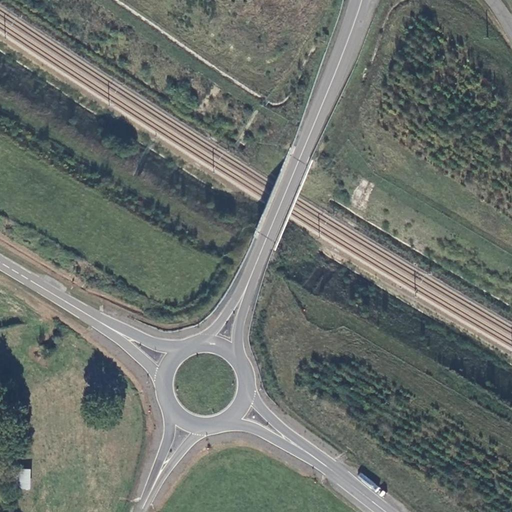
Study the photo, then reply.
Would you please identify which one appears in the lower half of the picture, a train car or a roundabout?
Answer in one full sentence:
The one visible in the lower half of the picture is a roundabout.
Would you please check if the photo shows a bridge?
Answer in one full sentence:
Yes, the frame does contain a bridge.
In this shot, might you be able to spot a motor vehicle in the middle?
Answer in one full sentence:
No, no motor vehicle can be made out in the middle.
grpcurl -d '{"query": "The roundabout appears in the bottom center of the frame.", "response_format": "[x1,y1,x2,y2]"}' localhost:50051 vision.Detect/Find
[90,298,322,475]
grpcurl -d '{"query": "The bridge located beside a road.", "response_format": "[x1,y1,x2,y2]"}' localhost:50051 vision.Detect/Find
[252,148,310,252]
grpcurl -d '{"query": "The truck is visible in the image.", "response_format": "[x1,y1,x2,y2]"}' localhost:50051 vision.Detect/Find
[358,472,386,498]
